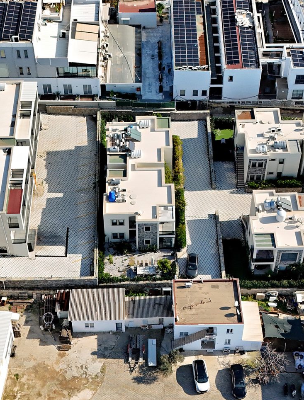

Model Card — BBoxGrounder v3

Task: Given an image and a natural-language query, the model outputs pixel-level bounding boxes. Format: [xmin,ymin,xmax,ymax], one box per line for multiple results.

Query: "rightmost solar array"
[291,50,304,67]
